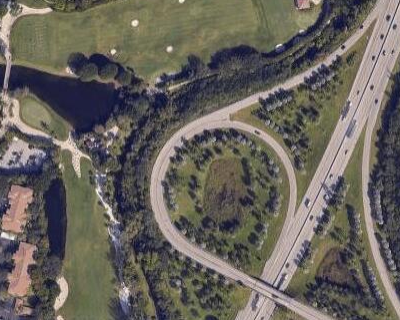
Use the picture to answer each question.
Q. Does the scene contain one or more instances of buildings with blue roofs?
No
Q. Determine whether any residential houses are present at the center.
No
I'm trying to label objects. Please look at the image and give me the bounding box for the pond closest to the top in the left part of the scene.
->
[0,62,117,134]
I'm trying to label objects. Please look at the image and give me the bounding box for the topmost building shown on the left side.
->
[3,185,33,232]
